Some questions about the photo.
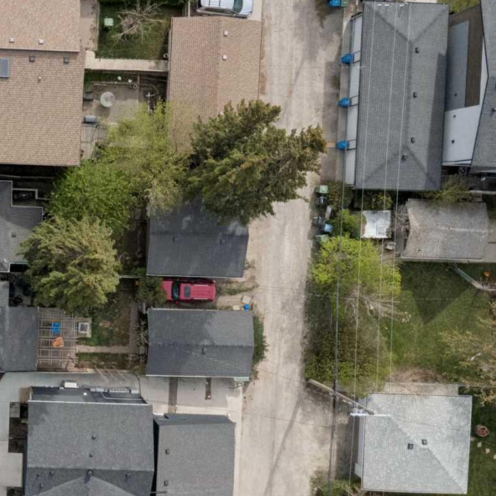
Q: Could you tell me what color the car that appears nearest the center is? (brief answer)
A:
red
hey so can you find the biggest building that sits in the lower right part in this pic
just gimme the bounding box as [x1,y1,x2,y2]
[341,391,473,495]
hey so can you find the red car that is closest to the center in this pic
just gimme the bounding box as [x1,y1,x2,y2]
[161,278,217,306]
